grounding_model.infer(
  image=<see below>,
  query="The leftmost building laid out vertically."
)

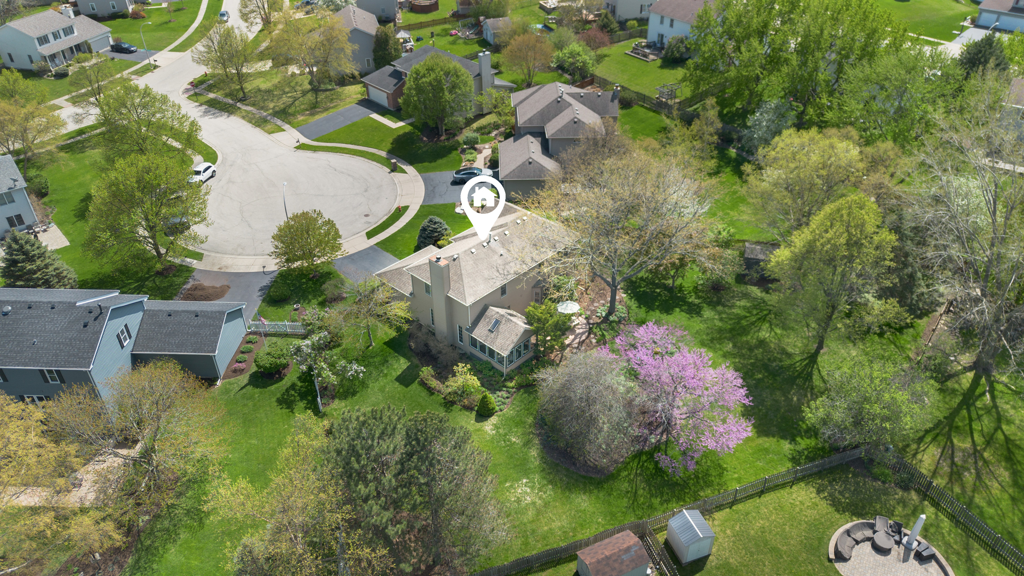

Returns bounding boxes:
[0,152,40,234]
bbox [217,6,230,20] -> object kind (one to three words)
vehicle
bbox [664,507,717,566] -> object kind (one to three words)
shed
